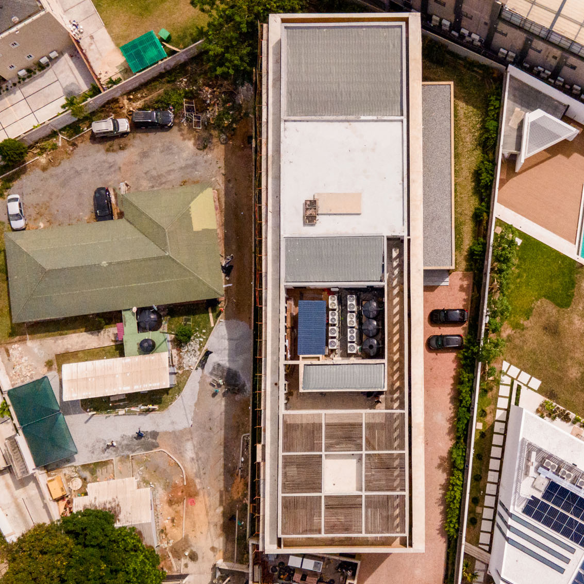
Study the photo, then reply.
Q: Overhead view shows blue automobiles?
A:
No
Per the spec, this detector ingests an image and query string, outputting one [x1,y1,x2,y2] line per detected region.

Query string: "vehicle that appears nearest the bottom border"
[426,332,465,351]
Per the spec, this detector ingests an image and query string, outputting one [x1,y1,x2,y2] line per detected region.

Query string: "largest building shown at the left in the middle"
[4,178,225,323]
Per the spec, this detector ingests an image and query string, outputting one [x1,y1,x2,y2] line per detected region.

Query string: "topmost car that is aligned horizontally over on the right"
[429,306,468,325]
